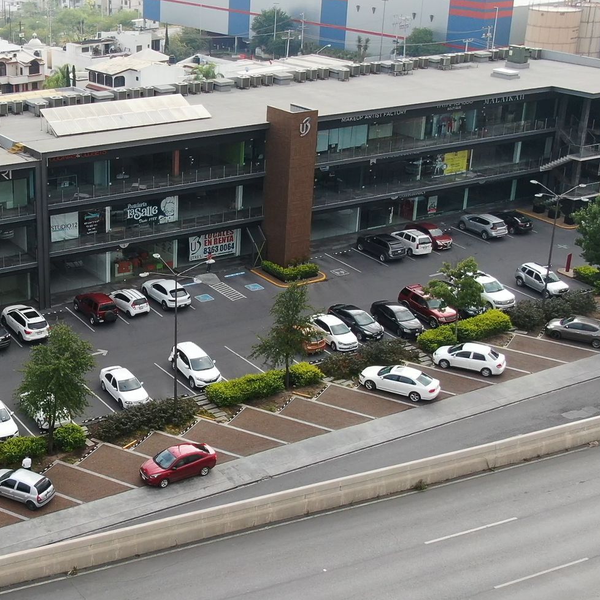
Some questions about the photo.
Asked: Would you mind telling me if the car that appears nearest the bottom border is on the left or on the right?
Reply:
left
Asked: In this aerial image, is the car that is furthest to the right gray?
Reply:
Yes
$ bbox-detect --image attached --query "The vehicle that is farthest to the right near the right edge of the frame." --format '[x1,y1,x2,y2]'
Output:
[541,311,600,346]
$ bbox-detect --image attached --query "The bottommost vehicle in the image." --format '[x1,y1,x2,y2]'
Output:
[0,462,61,507]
